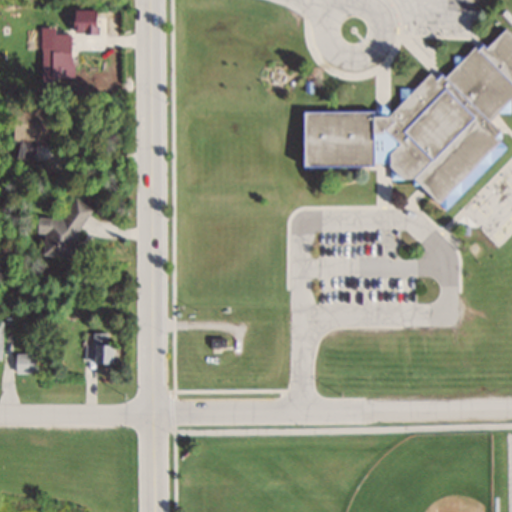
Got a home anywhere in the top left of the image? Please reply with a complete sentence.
Yes, a home can be seen in the top left of the image.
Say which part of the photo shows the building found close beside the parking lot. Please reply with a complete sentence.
The building found close beside the parking lot appears toward the top right of the photo.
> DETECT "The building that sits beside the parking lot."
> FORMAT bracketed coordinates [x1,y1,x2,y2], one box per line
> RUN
[304,30,512,210]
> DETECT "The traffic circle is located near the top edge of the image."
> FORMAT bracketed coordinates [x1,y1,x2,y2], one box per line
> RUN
[304,0,396,81]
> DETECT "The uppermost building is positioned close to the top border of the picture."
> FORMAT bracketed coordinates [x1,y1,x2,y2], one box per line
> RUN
[74,9,98,34]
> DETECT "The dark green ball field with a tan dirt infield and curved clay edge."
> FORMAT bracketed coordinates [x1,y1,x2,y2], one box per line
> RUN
[346,434,494,512]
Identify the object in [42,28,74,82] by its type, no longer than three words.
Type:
house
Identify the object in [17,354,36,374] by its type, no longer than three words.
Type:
building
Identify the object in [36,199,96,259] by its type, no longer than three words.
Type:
house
